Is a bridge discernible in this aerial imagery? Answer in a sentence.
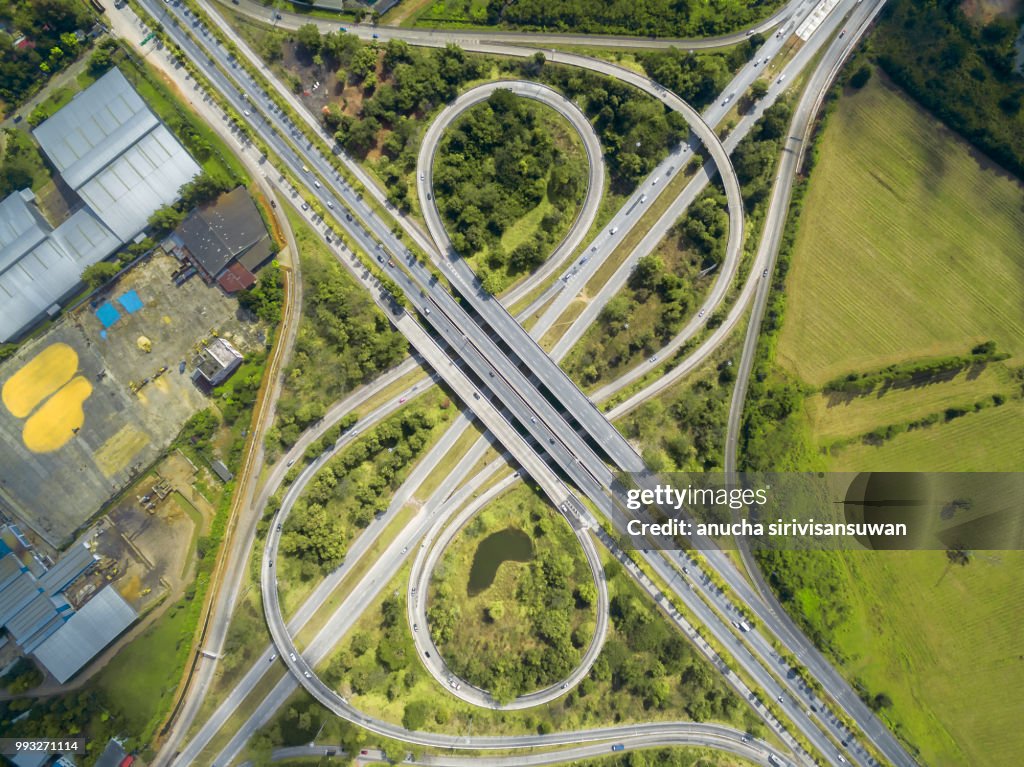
Yes, the photo shows a bridge.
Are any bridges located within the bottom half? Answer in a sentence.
Yes, a bridge can be seen within the bottom half.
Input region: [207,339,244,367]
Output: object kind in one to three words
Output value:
house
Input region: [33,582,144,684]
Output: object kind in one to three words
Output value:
building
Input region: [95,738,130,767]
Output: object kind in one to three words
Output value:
house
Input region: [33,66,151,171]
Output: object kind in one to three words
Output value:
building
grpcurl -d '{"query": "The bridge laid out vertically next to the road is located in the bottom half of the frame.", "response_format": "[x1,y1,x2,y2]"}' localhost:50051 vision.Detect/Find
[260,476,348,709]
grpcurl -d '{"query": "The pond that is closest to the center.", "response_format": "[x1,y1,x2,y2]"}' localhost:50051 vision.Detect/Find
[466,527,534,595]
